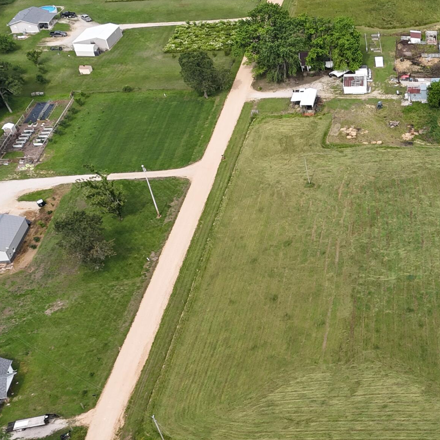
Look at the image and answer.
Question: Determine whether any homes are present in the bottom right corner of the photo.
No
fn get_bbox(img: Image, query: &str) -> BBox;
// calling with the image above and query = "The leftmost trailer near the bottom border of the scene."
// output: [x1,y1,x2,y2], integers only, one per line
[0,412,63,437]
